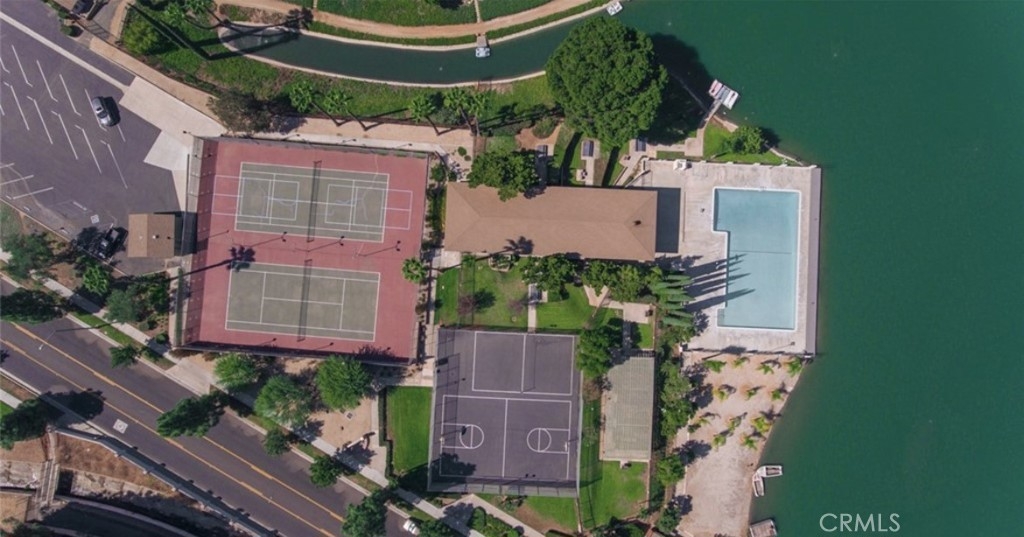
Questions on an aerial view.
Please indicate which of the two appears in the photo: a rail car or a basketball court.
basketball court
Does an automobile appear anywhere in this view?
Yes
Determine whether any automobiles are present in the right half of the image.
No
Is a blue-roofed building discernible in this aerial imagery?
No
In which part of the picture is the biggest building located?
center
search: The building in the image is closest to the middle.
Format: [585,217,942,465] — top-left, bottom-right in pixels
[445,182,658,262]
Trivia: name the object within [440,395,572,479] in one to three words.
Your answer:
basketball court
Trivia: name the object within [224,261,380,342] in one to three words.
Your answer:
tennis court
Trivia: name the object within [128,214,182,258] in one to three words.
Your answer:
building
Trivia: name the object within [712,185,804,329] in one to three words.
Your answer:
swimming pool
